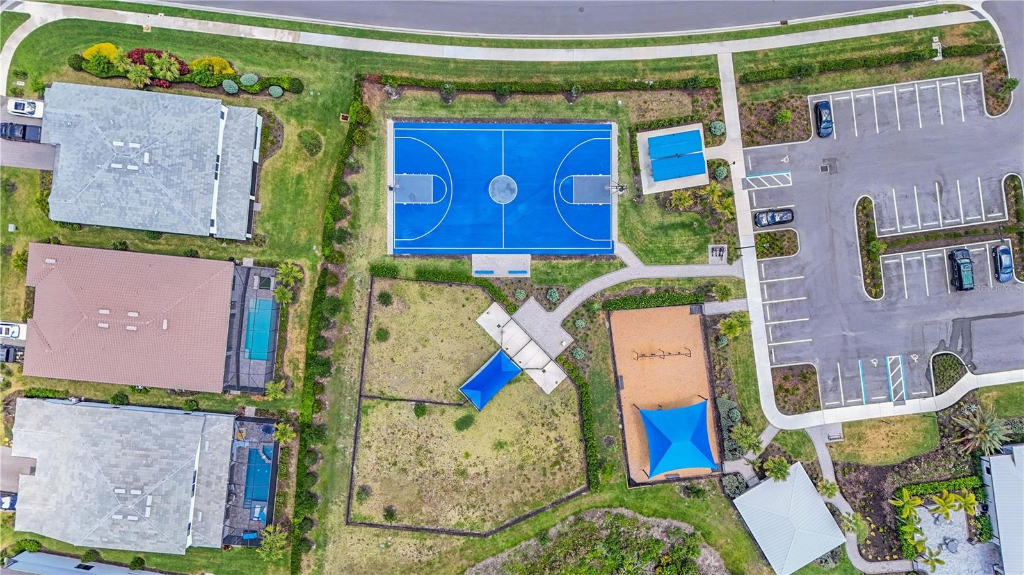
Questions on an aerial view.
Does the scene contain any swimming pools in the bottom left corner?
Yes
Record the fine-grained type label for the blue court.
basketball court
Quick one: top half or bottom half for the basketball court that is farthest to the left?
top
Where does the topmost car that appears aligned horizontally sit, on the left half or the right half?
left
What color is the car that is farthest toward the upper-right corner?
blue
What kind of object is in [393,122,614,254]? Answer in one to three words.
basketball court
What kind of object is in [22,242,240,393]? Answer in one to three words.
house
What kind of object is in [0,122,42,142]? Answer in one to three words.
vehicle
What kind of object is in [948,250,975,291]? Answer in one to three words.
car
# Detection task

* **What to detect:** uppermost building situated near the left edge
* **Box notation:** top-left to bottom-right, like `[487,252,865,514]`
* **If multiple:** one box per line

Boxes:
[41,82,262,240]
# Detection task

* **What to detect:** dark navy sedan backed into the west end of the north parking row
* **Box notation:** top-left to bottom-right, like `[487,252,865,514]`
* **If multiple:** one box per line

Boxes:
[812,99,835,139]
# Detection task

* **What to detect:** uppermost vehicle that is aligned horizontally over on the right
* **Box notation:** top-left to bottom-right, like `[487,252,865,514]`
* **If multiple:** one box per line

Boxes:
[753,208,794,227]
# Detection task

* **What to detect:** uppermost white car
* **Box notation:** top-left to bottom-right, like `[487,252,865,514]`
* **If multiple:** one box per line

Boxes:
[2,98,44,119]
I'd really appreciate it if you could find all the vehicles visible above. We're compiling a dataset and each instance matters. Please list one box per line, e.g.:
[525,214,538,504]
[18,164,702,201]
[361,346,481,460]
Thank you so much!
[0,322,27,340]
[0,122,42,142]
[948,250,975,291]
[0,492,17,511]
[2,98,44,119]
[753,208,794,227]
[0,346,25,363]
[990,245,1014,281]
[812,99,835,139]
